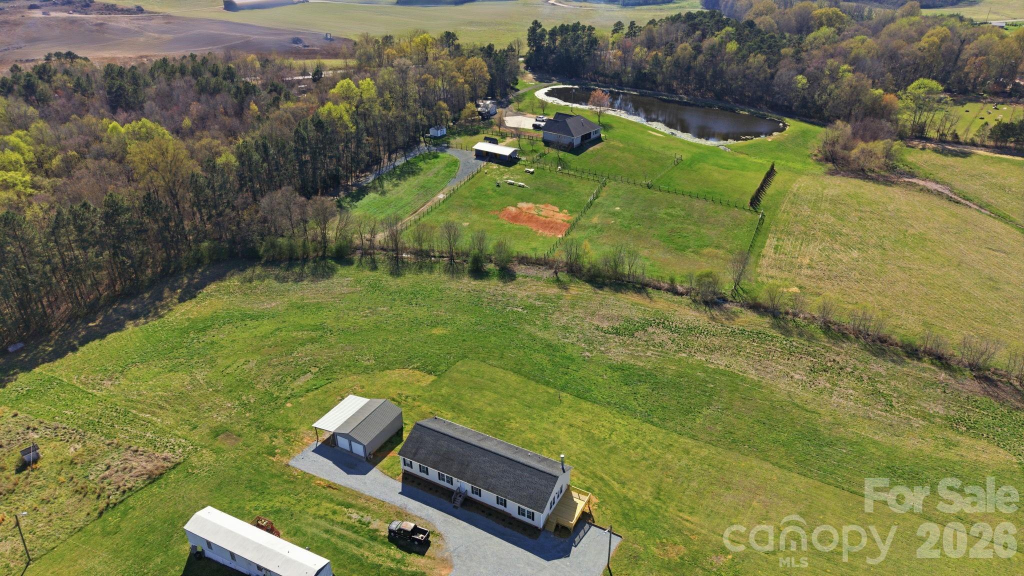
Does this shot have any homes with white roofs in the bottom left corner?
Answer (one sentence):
Yes, a home with a white roof is visible in the bottom left corner.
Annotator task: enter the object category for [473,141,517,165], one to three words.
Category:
building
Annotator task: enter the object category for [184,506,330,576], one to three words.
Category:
house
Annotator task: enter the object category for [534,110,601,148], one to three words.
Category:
house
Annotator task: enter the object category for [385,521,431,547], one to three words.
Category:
truck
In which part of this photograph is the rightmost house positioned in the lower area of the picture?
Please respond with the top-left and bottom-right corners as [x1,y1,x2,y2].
[398,413,590,534]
